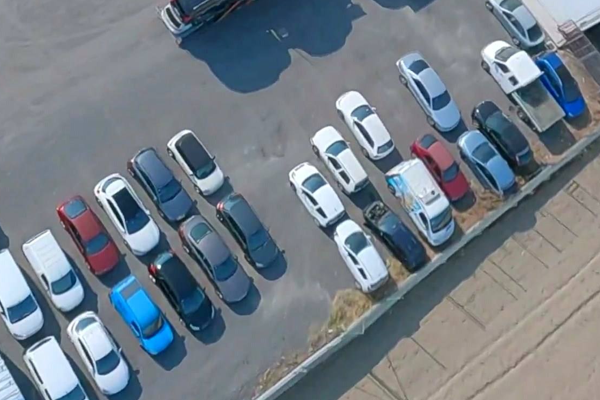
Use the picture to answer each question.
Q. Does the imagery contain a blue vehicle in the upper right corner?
Yes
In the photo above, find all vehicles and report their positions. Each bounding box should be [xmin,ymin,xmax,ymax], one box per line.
[149,250,216,335]
[178,216,246,307]
[0,249,42,342]
[395,55,457,135]
[169,130,224,198]
[20,336,87,400]
[331,219,391,295]
[536,51,585,116]
[362,202,426,277]
[130,147,191,224]
[66,314,126,399]
[473,100,532,169]
[410,135,467,203]
[216,191,278,271]
[286,162,348,232]
[108,274,173,359]
[479,42,567,135]
[57,197,118,278]
[375,156,456,250]
[490,0,547,48]
[451,132,510,198]
[21,230,85,317]
[310,126,371,197]
[335,93,394,163]
[95,175,159,258]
